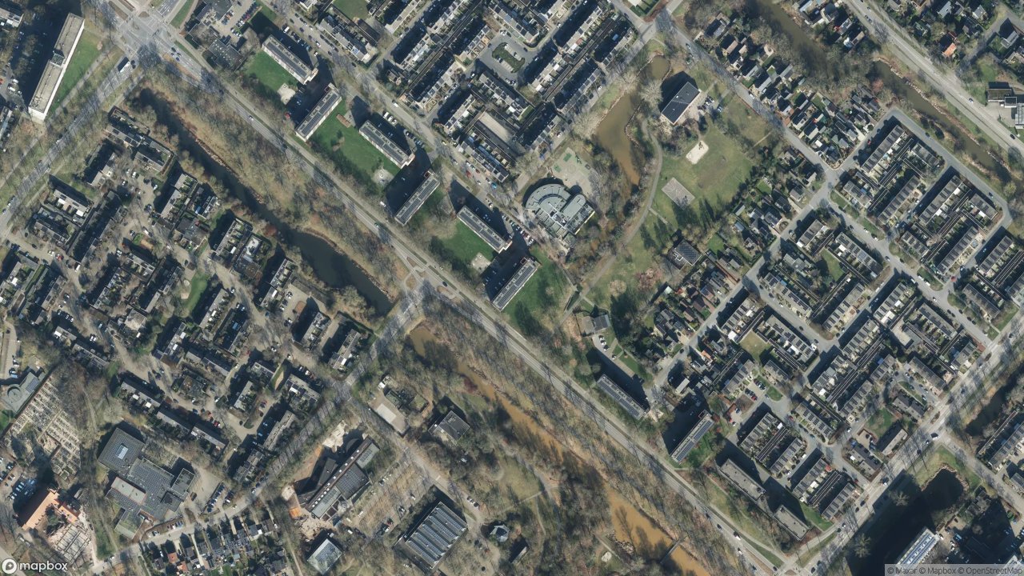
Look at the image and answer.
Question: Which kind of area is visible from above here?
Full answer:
This image shows a residential area.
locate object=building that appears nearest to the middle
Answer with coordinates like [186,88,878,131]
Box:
[492,257,539,315]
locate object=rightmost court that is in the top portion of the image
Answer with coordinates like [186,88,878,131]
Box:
[662,178,695,210]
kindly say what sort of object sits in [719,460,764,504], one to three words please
building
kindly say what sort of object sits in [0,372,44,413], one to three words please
building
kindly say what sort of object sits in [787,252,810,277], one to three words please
house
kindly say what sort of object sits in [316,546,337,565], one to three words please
solar array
